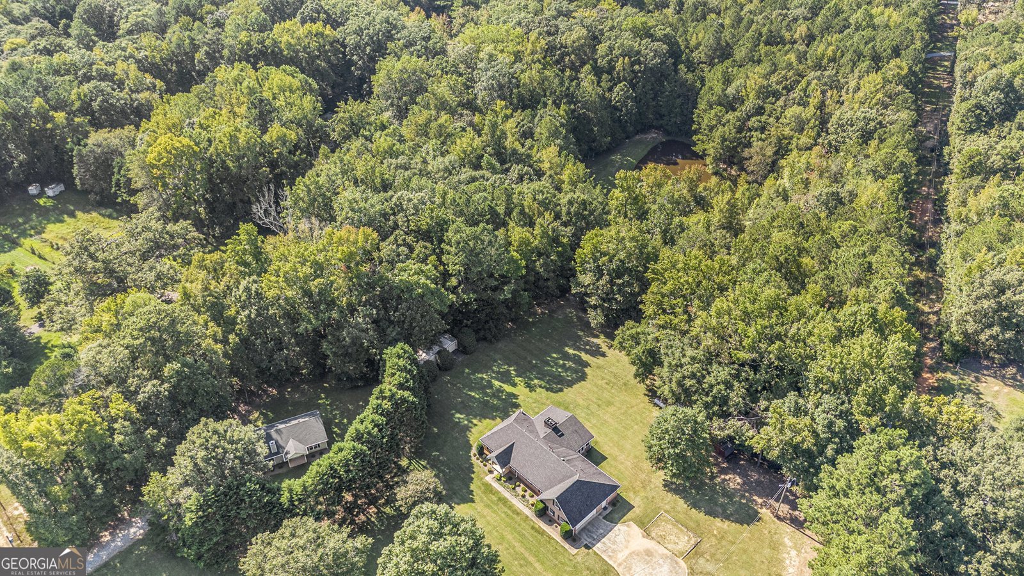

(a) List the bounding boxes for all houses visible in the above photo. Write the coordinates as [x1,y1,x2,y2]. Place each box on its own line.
[248,409,329,472]
[479,405,622,539]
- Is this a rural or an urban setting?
rural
